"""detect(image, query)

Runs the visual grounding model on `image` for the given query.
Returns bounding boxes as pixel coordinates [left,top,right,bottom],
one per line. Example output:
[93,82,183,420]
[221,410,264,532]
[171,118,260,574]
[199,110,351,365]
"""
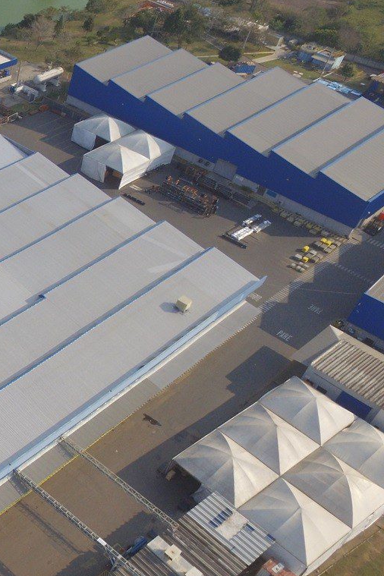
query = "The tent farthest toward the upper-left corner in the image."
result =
[66,117,126,151]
